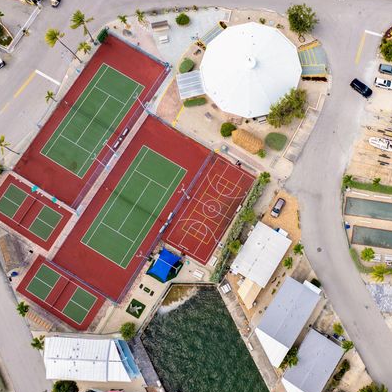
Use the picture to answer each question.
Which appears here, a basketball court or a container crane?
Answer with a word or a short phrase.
basketball court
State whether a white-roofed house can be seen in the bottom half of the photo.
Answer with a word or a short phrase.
Yes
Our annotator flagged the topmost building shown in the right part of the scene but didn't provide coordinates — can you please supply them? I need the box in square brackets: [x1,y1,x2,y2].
[200,23,303,119]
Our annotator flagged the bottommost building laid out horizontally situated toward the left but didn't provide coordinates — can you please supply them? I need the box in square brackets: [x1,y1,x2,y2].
[43,336,143,383]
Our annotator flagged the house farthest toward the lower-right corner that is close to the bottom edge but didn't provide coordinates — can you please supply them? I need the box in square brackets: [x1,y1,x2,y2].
[283,327,343,392]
